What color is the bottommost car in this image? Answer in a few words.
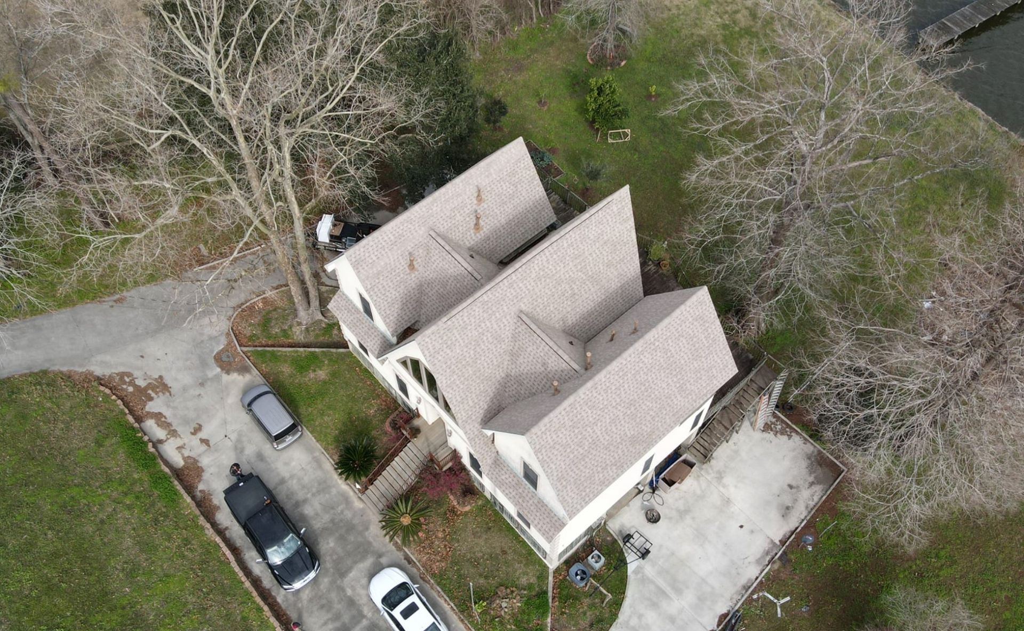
white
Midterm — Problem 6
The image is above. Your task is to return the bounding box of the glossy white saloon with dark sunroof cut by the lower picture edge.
[370,566,453,631]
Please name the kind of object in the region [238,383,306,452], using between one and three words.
car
